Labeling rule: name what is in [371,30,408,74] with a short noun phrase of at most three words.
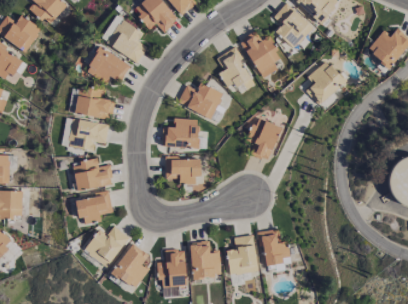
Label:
house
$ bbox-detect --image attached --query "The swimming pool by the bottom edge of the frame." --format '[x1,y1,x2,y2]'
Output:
[273,280,296,295]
